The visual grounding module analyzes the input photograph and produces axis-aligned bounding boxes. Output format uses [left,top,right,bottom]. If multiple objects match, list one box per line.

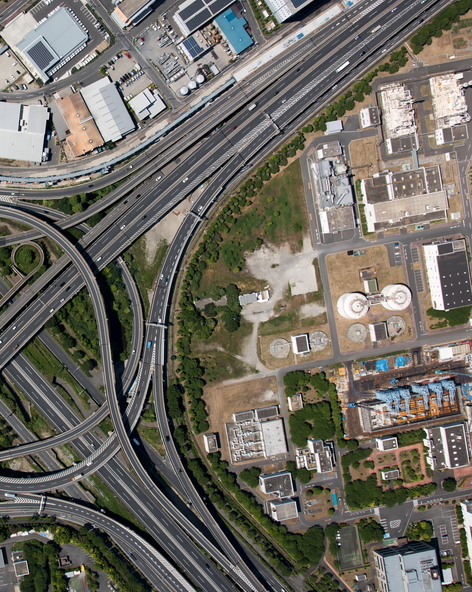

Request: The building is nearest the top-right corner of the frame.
[426,74,470,129]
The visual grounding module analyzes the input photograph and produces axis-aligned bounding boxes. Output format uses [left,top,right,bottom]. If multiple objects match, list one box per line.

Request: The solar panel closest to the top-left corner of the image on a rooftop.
[28,40,59,70]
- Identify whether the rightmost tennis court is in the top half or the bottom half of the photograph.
bottom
